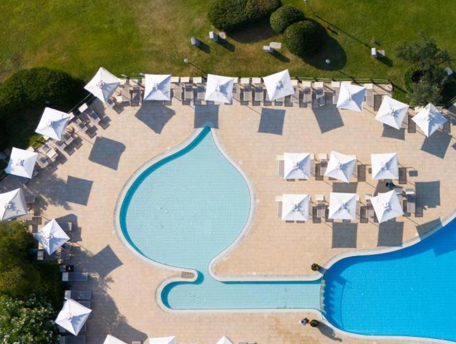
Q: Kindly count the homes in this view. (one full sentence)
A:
No homes are visible.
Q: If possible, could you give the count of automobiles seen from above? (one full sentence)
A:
The photo contains no automobiles.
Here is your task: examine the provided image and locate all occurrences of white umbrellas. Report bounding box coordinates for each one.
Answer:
[370,189,404,223]
[375,95,410,130]
[215,334,236,344]
[34,218,73,256]
[335,81,368,114]
[262,69,295,103]
[85,67,123,104]
[411,105,448,139]
[324,150,358,184]
[144,75,173,102]
[371,152,399,180]
[7,147,43,180]
[104,335,128,344]
[150,336,178,344]
[38,108,75,142]
[282,194,309,221]
[206,75,235,104]
[330,193,357,220]
[57,298,95,334]
[284,153,311,180]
